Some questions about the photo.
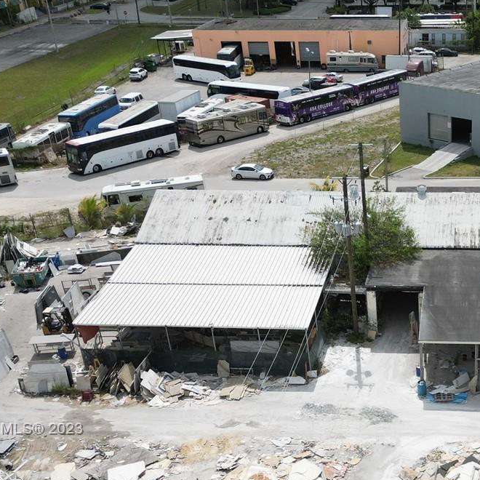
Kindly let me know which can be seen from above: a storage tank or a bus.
bus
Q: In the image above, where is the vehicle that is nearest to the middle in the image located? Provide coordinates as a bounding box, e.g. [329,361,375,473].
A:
[230,162,273,179]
